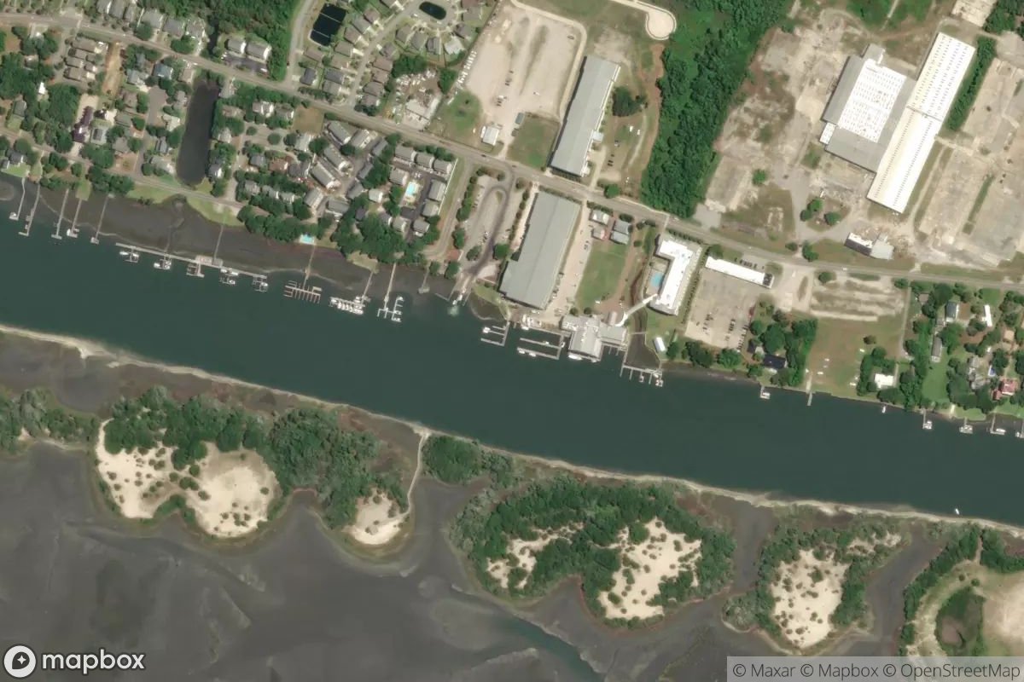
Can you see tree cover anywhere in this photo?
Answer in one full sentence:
Yes, some tree cover is visible.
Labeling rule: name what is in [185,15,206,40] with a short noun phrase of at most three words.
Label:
house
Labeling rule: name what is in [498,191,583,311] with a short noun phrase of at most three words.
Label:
shed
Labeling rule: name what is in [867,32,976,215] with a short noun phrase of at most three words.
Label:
building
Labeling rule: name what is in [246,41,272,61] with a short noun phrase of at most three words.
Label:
building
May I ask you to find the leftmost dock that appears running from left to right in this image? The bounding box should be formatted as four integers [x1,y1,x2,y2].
[116,225,268,292]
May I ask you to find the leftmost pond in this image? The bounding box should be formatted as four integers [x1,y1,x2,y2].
[177,82,219,186]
